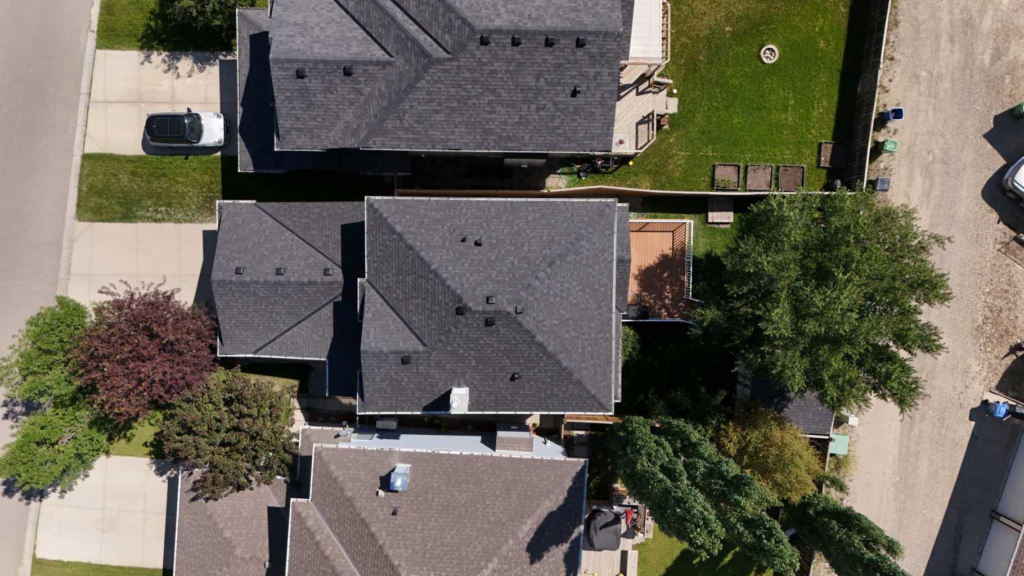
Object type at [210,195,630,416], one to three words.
house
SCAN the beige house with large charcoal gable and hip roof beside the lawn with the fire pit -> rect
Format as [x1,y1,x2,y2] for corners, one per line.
[236,0,635,176]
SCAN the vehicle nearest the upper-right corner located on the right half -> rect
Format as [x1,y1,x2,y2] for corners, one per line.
[997,158,1024,210]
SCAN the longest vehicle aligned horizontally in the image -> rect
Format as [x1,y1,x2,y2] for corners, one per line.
[142,105,229,148]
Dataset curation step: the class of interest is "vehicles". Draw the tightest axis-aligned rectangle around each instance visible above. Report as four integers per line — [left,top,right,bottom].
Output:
[142,105,229,148]
[997,158,1024,210]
